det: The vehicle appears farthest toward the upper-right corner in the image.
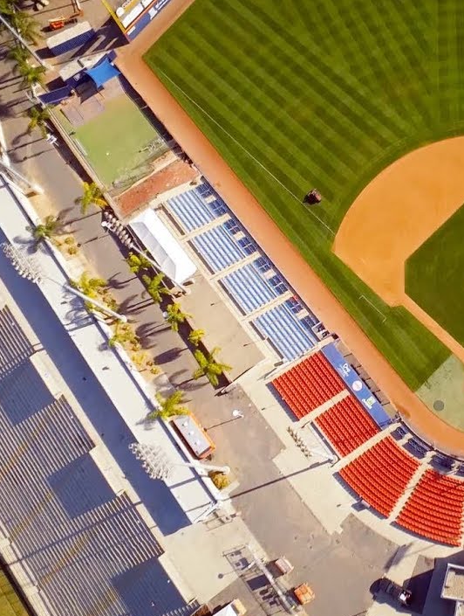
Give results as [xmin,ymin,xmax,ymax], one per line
[301,189,321,203]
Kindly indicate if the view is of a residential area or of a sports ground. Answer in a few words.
sports ground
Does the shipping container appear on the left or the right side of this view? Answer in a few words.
left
